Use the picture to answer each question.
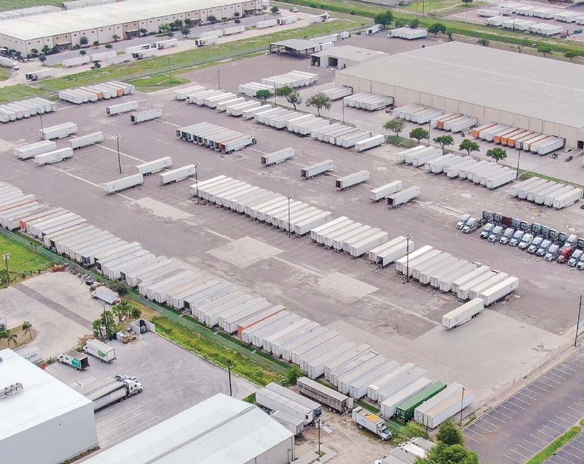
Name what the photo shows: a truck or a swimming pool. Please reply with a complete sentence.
I can see a truck in this picture.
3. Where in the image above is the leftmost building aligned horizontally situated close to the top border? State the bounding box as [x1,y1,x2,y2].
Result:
[0,0,262,57]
